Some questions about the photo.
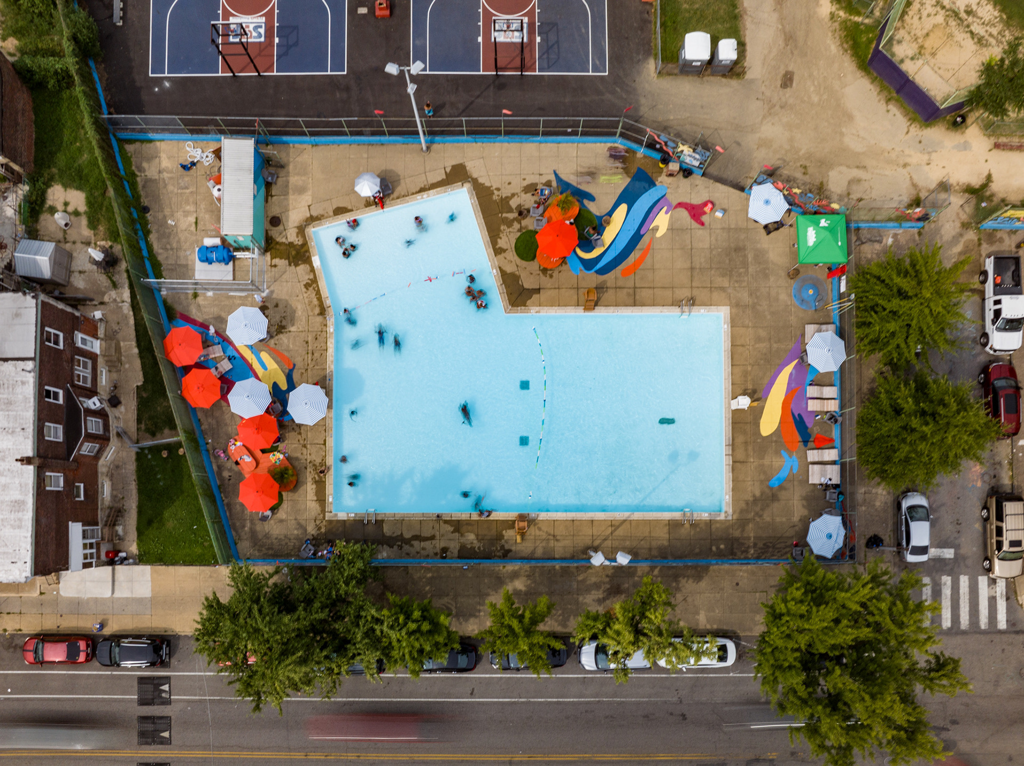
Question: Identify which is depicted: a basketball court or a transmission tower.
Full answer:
There is a basketball court in the scene.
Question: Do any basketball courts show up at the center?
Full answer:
No, there is no basketball court at the center.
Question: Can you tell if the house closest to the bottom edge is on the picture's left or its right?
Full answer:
The house closest to the bottom edge is on the left side of the image.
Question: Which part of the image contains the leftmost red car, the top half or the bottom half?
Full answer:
The leftmost red car is in the bottom half of the image.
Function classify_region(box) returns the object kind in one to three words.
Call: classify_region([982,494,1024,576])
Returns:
car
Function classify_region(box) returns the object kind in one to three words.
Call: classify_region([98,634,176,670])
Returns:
car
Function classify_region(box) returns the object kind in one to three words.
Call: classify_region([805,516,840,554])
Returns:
umbrella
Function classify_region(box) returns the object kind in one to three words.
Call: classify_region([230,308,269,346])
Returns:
umbrella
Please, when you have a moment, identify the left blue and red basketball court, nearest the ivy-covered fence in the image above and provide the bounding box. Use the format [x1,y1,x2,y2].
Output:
[149,0,348,75]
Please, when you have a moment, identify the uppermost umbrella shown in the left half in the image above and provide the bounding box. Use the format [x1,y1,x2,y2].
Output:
[356,174,381,200]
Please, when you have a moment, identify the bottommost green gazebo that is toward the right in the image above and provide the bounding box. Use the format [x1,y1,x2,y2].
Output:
[785,214,847,273]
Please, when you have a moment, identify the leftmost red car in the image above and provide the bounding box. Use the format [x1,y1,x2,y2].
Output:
[26,633,100,668]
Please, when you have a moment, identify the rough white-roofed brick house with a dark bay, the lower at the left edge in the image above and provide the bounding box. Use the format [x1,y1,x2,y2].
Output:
[0,360,118,587]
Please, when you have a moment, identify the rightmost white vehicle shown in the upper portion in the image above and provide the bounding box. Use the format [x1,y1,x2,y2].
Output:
[980,258,1024,354]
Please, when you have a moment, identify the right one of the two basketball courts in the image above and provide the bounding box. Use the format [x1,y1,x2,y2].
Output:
[411,0,608,74]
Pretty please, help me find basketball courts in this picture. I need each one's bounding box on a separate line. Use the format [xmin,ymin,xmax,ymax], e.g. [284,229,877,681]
[149,0,348,75]
[411,0,608,74]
